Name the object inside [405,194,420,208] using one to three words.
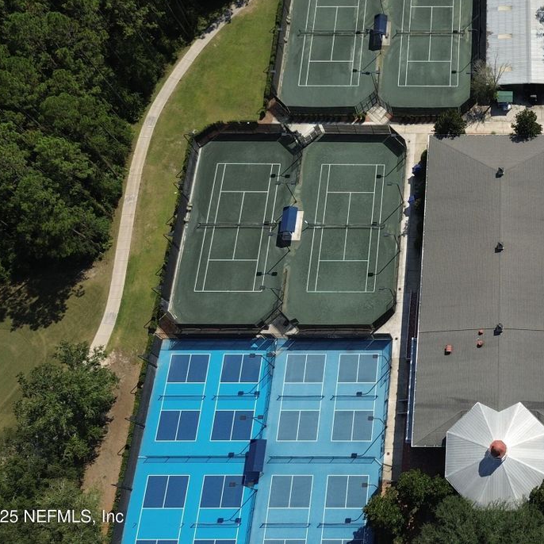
umbrella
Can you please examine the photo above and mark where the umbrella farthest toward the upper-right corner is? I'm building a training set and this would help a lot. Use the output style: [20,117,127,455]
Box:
[410,164,424,177]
